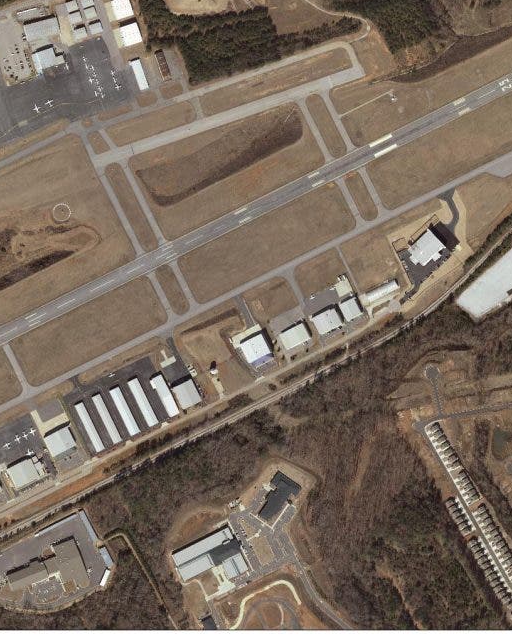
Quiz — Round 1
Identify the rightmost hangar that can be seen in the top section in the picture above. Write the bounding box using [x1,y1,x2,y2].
[407,230,445,266]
